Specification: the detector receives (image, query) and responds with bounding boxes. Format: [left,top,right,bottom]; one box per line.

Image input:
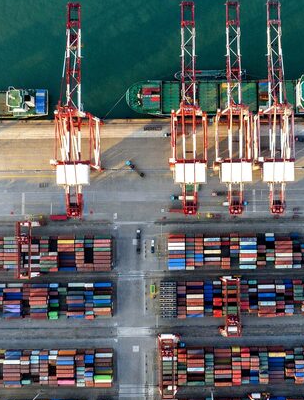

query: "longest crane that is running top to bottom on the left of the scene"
[49,2,105,216]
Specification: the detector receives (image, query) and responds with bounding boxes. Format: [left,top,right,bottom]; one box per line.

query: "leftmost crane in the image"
[17,223,48,278]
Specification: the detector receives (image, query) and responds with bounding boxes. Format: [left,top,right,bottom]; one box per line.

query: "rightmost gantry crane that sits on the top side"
[251,0,295,214]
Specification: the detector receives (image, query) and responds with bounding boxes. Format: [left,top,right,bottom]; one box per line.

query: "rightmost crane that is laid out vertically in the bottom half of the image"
[219,276,245,339]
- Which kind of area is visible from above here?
port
